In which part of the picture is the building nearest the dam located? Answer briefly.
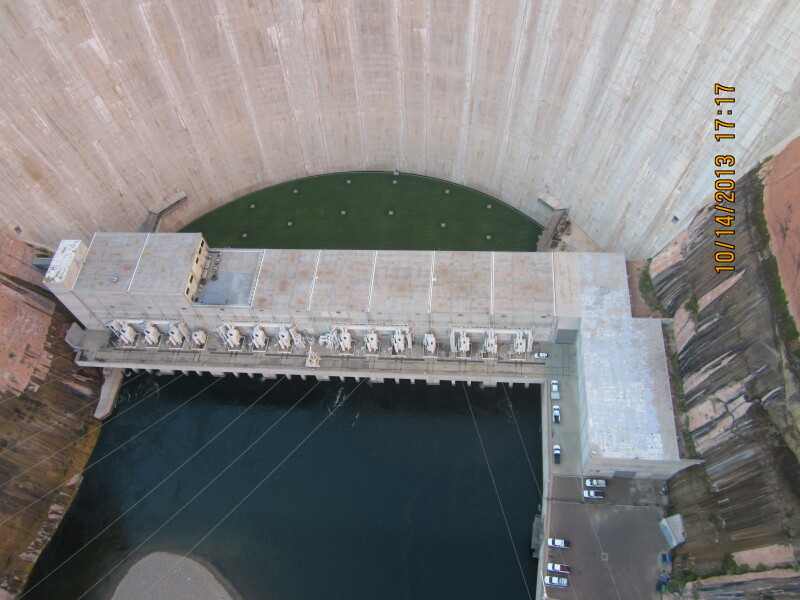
center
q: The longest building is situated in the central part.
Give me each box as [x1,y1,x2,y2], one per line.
[41,230,705,481]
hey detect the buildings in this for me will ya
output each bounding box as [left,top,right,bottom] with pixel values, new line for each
[41,230,705,481]
[657,516,686,552]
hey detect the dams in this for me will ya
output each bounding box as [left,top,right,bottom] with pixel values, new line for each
[0,0,800,292]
